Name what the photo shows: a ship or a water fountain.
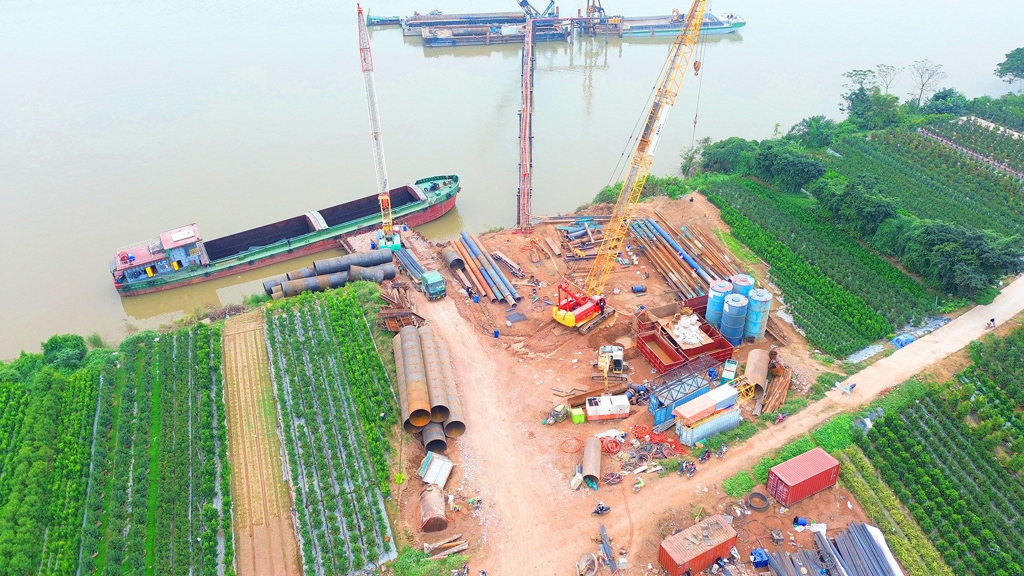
ship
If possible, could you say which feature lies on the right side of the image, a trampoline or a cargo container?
cargo container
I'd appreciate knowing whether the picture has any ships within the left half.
Yes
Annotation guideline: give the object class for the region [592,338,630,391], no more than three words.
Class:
work vehicle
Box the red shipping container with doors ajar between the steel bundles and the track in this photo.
[767,446,842,507]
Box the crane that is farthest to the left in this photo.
[358,5,405,251]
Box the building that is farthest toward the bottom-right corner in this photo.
[721,359,738,384]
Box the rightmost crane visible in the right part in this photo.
[548,0,711,337]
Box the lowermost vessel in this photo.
[112,172,461,292]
